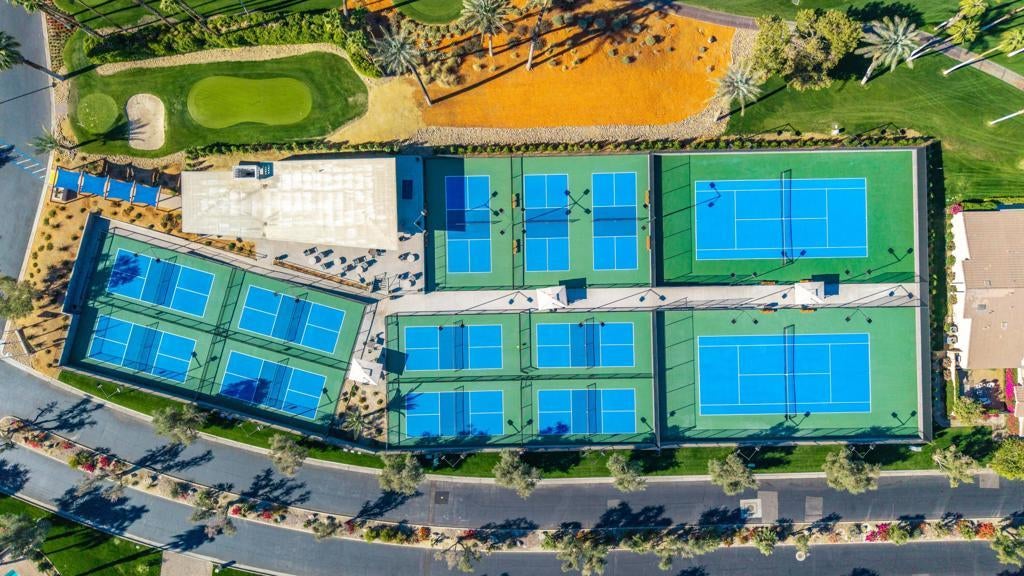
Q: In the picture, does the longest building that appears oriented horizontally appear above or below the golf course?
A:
below it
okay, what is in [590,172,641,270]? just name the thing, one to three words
sports court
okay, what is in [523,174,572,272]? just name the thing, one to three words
sports court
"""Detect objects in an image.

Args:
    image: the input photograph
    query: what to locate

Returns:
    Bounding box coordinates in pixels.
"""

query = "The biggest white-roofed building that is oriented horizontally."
[181,154,428,250]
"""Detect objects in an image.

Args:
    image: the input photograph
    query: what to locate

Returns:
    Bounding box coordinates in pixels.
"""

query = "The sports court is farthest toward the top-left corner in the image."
[105,248,214,317]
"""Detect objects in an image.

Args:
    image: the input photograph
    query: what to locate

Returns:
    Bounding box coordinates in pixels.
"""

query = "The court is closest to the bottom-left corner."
[87,315,196,383]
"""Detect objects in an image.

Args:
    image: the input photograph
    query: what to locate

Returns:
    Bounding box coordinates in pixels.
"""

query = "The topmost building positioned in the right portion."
[950,209,1024,369]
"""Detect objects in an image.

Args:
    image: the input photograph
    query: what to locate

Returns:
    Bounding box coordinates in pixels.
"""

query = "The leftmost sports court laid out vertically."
[444,176,493,273]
